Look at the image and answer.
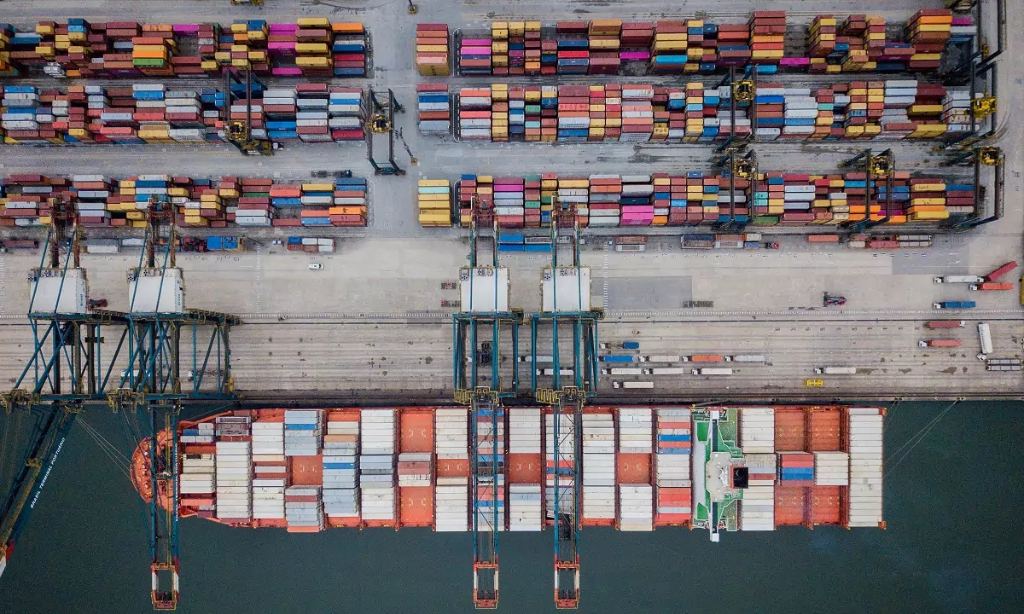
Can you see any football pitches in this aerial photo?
No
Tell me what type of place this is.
port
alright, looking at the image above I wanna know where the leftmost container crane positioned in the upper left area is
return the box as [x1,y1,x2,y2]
[223,70,272,156]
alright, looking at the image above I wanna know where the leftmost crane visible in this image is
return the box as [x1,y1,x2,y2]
[0,199,151,563]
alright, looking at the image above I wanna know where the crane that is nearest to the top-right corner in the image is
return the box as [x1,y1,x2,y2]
[942,0,1005,73]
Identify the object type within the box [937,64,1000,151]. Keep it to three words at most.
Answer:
container crane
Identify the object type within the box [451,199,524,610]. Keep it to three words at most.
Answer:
container crane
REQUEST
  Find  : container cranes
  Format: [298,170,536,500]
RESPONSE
[713,149,758,230]
[941,144,1004,227]
[103,199,246,610]
[451,199,524,610]
[937,64,1000,151]
[368,88,406,173]
[839,147,893,228]
[0,199,151,563]
[942,0,1005,73]
[530,199,606,610]
[713,66,758,152]
[223,70,272,156]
